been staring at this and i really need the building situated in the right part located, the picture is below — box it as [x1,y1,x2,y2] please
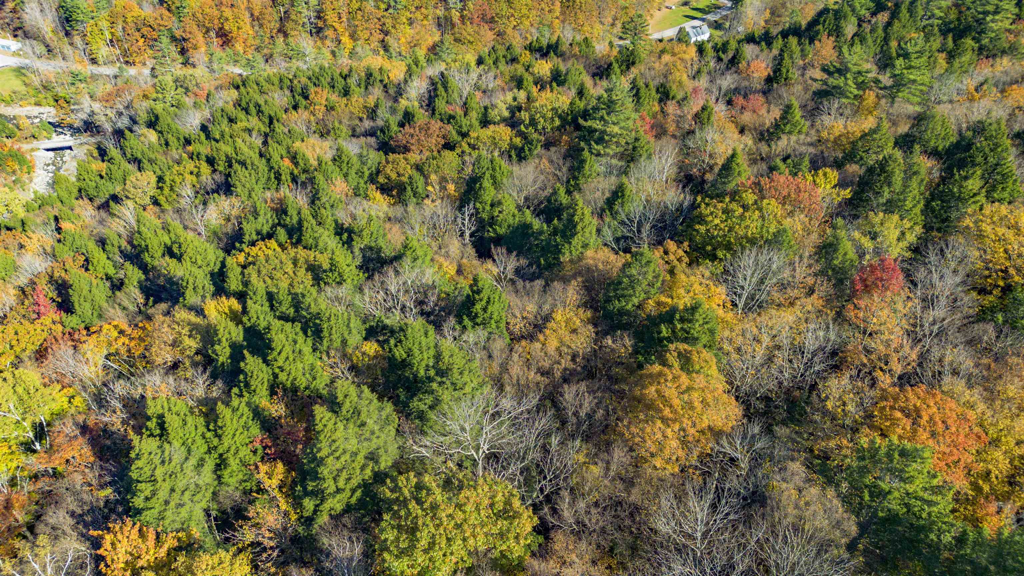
[681,21,711,43]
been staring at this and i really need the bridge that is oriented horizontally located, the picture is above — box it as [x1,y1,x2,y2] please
[16,130,100,156]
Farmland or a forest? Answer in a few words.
forest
